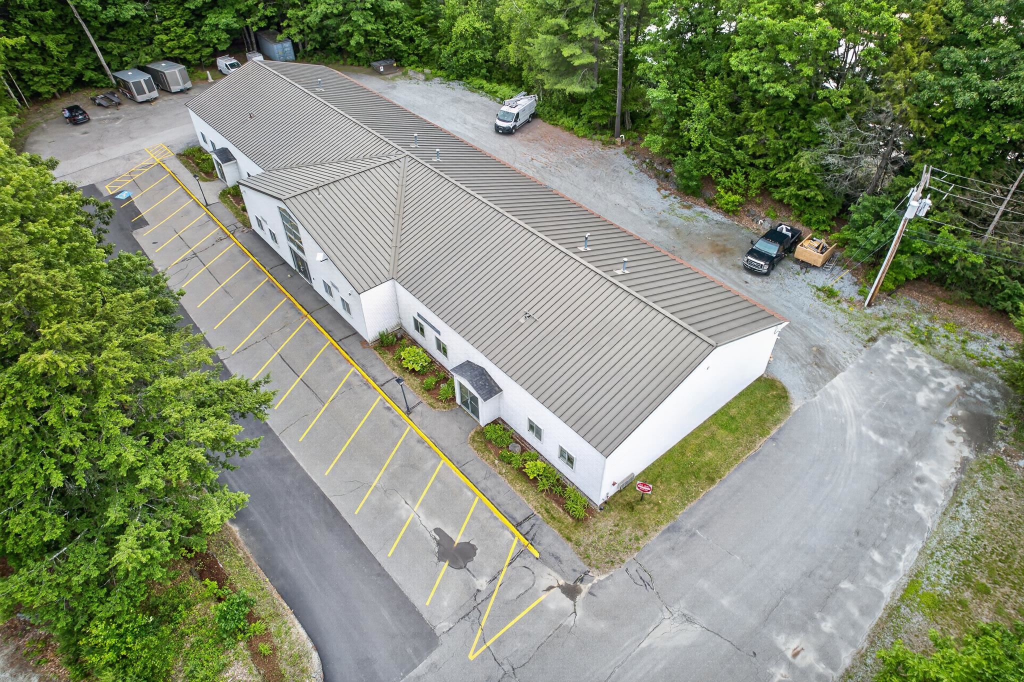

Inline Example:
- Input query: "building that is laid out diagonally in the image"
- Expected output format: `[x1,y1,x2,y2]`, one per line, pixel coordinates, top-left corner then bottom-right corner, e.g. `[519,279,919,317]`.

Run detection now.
[184,57,792,507]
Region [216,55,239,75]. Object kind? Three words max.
vehicle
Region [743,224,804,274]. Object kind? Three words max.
truck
